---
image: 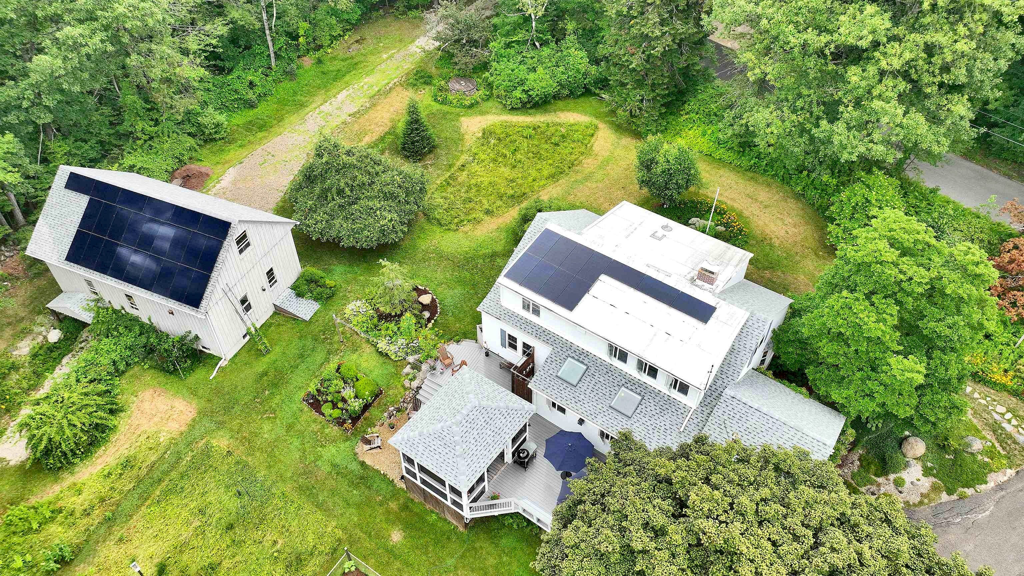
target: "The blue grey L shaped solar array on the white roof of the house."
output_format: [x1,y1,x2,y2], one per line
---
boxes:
[504,227,717,322]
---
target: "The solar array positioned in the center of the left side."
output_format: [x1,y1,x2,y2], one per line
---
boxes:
[62,172,229,308]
